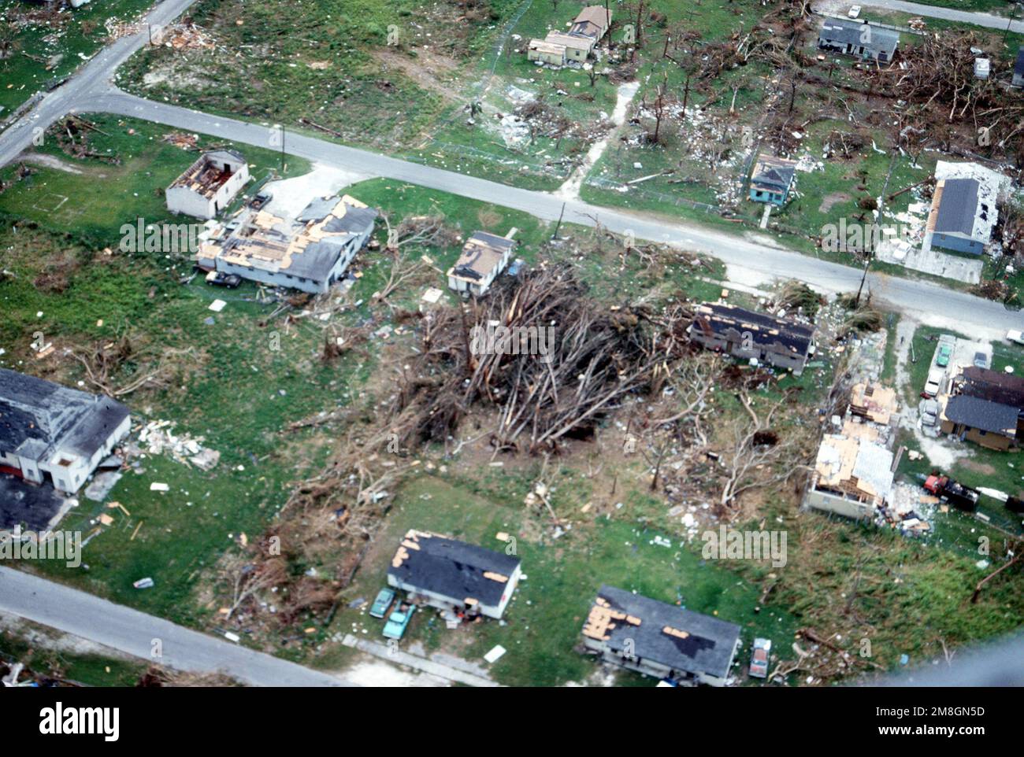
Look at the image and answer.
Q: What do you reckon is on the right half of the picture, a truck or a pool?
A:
truck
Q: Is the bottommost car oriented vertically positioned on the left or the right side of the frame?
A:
right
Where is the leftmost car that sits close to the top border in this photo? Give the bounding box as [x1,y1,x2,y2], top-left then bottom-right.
[848,5,860,18]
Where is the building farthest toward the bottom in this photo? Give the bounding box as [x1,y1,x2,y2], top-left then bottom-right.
[582,585,740,697]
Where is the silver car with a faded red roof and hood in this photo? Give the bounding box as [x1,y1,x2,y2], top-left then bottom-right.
[750,638,770,680]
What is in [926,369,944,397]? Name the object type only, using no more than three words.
car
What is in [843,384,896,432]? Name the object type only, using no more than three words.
house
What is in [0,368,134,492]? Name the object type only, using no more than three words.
church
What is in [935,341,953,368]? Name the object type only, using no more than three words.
car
